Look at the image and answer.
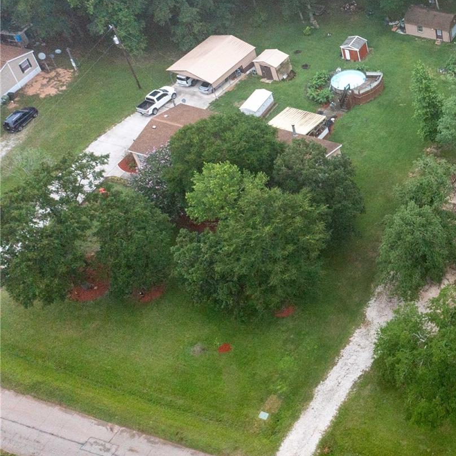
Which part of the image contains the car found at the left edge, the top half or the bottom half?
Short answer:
top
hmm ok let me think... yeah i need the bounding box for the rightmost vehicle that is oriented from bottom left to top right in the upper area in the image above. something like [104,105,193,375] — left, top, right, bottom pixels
[138,88,176,115]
